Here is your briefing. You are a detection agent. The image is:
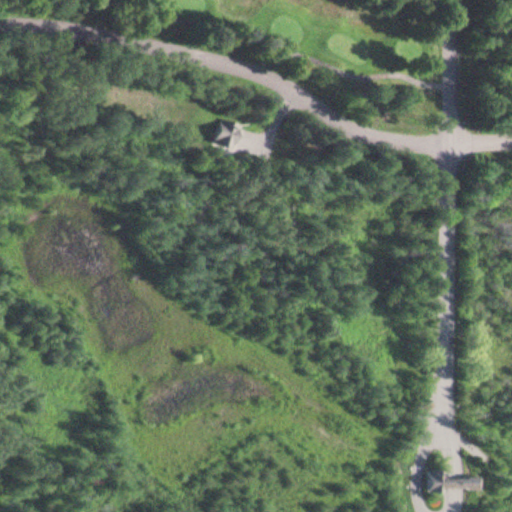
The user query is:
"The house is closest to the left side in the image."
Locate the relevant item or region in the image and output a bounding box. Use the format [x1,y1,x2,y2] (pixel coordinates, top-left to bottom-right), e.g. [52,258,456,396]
[215,121,234,147]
